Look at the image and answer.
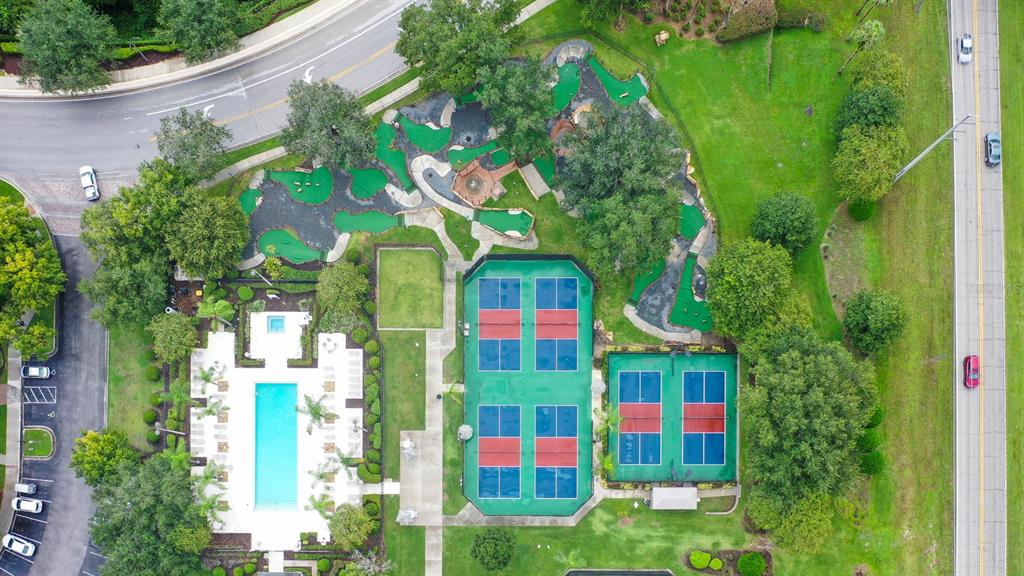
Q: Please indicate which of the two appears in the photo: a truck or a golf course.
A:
golf course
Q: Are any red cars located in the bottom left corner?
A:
No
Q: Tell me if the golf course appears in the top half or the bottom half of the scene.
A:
top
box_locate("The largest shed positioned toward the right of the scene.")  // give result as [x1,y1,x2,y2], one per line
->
[651,488,696,509]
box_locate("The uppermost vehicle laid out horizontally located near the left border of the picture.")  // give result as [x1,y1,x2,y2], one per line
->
[17,364,53,380]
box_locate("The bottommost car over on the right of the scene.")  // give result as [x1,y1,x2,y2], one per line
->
[961,355,982,388]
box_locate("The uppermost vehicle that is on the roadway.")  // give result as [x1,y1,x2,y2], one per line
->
[955,32,974,67]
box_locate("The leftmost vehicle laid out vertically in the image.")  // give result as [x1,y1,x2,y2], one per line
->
[78,165,100,203]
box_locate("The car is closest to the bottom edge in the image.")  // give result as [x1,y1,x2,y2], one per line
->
[1,535,38,556]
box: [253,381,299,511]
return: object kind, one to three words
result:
swimming pool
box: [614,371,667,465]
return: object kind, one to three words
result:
sports court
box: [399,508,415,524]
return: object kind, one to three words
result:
umbrella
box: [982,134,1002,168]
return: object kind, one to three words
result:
car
